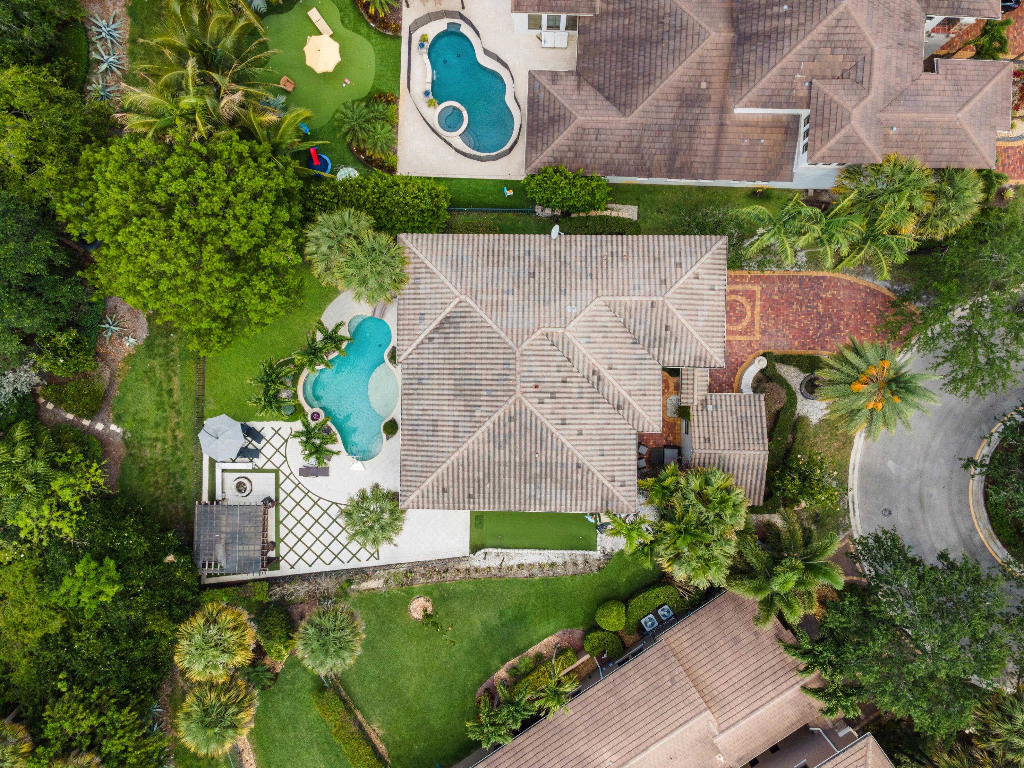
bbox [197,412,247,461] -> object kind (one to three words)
umbrella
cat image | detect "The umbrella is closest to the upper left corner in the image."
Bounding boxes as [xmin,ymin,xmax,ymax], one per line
[305,37,344,75]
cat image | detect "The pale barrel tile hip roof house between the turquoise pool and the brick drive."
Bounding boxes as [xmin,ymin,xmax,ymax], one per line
[396,232,729,514]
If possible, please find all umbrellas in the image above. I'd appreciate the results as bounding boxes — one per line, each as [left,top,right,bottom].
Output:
[338,166,360,189]
[197,412,247,461]
[305,37,344,75]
